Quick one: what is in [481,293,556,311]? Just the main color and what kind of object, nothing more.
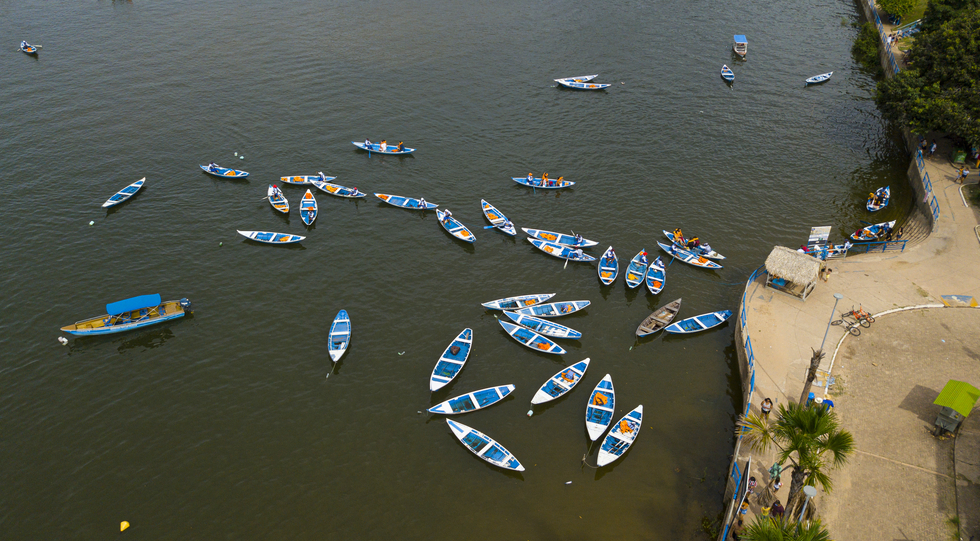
white boat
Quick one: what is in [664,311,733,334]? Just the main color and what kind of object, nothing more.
blue boat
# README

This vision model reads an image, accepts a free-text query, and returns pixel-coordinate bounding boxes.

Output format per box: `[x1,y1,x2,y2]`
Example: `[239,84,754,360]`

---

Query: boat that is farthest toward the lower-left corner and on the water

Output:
[59,291,196,334]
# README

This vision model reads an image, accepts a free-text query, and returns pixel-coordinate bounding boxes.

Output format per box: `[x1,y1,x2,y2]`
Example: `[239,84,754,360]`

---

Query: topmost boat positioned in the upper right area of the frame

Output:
[732,28,748,61]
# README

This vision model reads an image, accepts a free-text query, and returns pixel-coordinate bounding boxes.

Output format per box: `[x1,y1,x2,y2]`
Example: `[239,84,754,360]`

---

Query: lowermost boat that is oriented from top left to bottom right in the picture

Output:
[447,418,524,473]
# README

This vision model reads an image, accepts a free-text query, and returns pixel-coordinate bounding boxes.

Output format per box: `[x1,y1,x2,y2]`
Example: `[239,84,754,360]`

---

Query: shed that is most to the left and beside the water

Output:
[765,242,826,300]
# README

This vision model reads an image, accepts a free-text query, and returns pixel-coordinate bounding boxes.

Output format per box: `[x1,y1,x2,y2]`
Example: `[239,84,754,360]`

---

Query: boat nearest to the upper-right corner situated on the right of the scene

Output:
[806,72,834,86]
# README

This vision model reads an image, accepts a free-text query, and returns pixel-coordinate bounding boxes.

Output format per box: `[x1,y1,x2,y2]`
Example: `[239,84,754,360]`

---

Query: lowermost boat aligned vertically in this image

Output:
[586,373,615,443]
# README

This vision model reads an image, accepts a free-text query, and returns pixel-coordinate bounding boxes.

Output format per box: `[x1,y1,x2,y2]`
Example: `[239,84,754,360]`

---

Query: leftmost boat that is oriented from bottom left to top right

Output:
[101,177,145,211]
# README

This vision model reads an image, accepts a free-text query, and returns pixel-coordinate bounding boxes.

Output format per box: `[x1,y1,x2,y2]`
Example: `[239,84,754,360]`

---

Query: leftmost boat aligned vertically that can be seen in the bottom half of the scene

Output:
[328,309,351,365]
